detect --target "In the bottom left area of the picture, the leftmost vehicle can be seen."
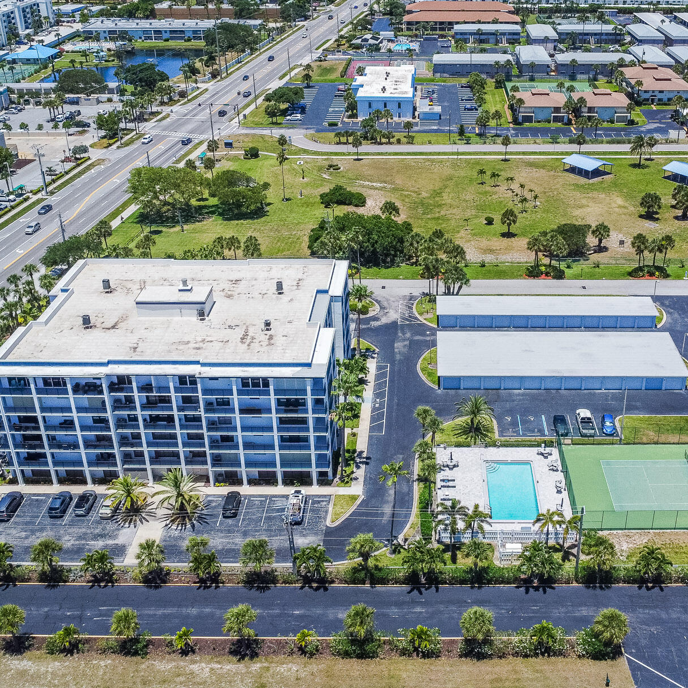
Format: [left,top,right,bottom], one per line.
[0,493,22,519]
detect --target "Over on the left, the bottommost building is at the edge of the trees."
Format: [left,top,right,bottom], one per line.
[0,254,354,486]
